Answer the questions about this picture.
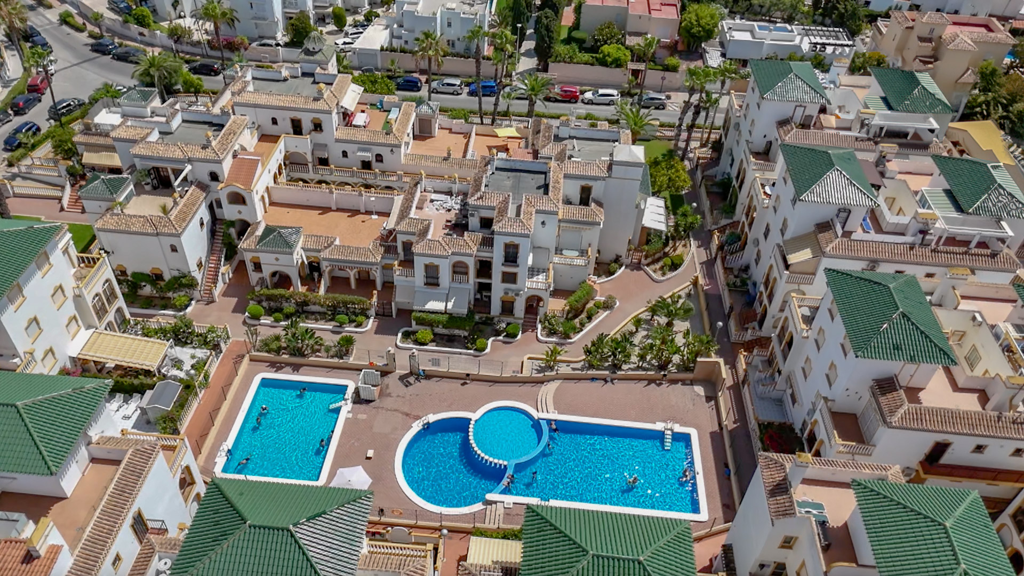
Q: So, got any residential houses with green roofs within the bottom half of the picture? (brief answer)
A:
Yes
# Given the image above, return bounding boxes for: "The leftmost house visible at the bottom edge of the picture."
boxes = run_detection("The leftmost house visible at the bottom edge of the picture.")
[0,368,206,576]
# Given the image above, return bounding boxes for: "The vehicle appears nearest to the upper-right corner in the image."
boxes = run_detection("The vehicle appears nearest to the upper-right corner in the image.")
[633,91,670,110]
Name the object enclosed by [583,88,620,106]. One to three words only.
car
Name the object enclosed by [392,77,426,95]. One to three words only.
car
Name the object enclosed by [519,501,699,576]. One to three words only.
house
